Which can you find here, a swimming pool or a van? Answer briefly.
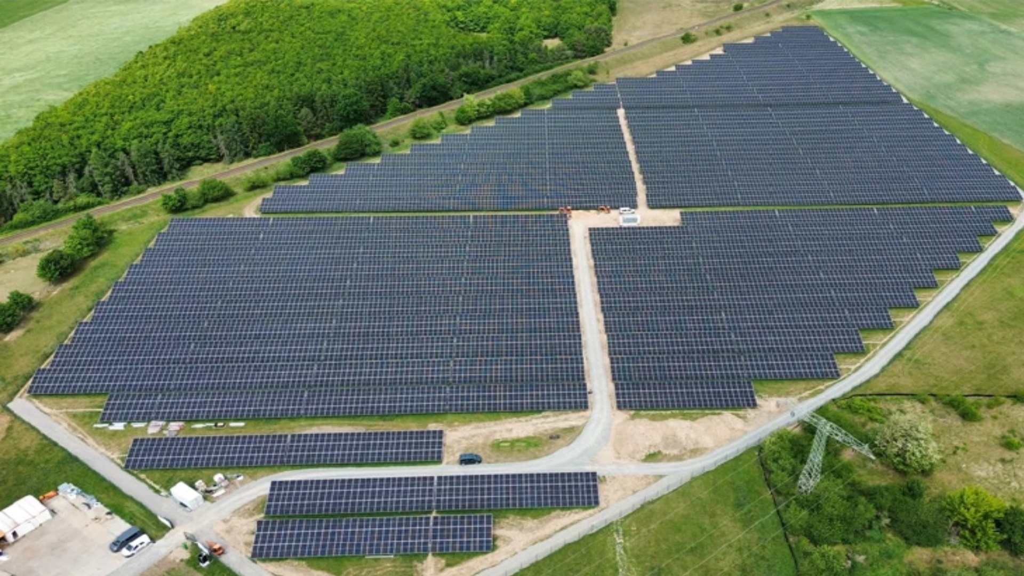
van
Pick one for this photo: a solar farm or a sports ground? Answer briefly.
solar farm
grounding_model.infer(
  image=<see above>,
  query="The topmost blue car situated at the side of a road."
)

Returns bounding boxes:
[459,454,482,466]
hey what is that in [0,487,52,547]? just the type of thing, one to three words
tent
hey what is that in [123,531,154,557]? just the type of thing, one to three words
vehicle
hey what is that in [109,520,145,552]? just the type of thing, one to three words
van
